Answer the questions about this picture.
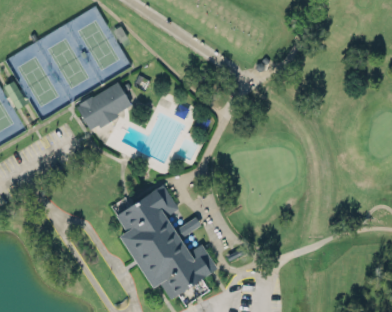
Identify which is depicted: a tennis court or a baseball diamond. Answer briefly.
tennis court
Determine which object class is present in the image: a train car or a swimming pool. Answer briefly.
swimming pool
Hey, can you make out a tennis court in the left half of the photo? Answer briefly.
Yes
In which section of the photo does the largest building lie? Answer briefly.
bottom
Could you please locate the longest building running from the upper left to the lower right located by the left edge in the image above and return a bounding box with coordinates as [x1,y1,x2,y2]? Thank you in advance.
[4,81,28,110]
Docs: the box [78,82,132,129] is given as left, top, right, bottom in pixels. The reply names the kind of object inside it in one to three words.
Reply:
building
